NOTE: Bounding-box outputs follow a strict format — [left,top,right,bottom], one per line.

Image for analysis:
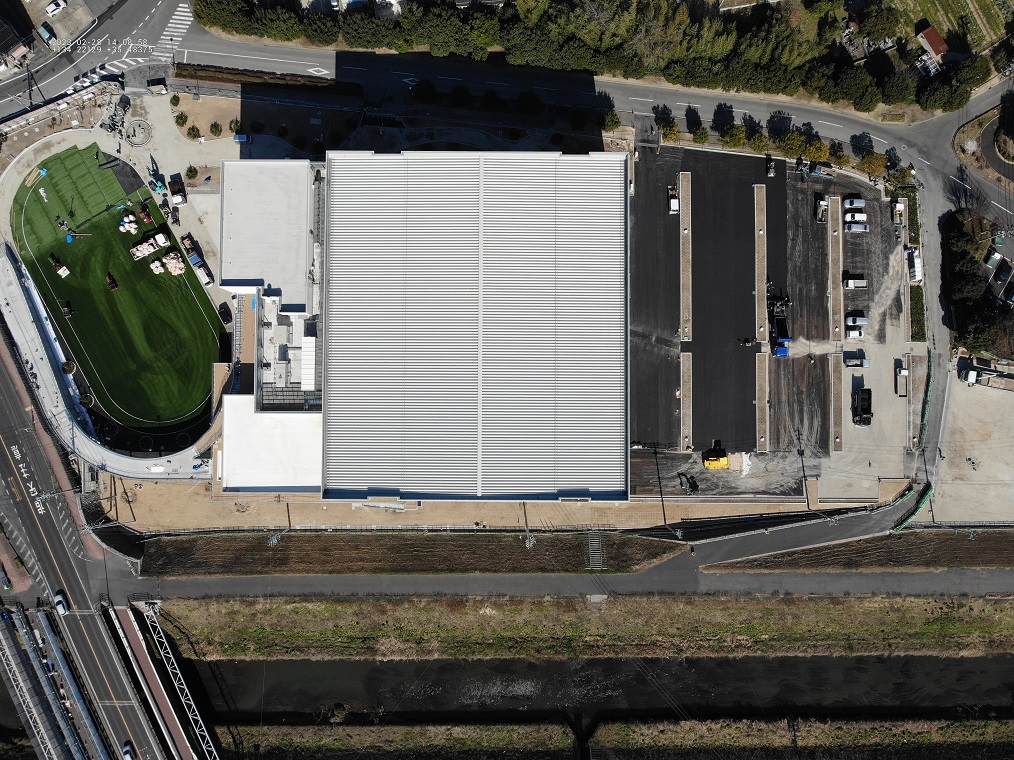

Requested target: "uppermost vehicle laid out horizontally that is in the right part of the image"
[810,164,837,180]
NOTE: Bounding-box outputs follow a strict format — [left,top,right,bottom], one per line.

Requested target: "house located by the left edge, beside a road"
[0,19,41,71]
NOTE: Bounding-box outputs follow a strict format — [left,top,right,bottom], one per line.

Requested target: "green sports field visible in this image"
[11,142,225,434]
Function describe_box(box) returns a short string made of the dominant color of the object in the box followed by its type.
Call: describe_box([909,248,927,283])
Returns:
white vehicle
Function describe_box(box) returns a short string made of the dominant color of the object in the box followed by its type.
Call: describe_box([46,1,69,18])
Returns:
white car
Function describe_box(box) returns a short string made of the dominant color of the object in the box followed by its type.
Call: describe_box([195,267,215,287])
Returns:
white vehicle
